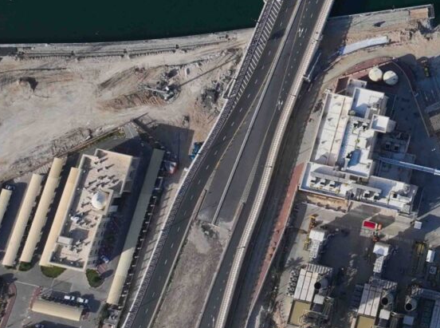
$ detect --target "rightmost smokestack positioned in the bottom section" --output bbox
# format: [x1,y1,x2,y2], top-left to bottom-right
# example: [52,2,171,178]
[403,297,420,312]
